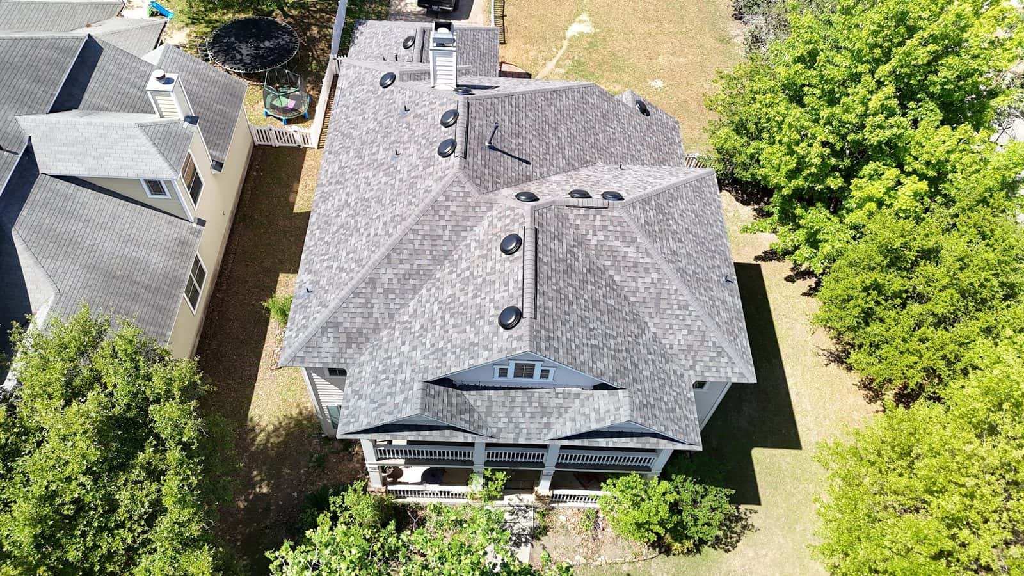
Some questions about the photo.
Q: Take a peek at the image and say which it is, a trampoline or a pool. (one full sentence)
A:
Looking from above, you can make out a trampoline.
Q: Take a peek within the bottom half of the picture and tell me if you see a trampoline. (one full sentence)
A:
No, no trampoline can be made out within the bottom half of the picture.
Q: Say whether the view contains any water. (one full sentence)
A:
No, the scene doesn't show any water.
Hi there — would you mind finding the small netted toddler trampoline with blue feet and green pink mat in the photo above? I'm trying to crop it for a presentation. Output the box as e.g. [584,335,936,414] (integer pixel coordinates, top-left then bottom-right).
[264,68,310,123]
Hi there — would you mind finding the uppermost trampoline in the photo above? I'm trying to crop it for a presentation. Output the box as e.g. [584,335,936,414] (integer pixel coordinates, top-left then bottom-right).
[203,15,301,87]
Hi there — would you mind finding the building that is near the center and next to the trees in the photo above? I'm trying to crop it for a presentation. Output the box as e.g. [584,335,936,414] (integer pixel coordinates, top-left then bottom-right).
[278,21,757,514]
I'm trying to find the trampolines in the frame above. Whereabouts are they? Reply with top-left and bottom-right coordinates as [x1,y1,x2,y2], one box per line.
[203,15,301,87]
[264,68,310,123]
